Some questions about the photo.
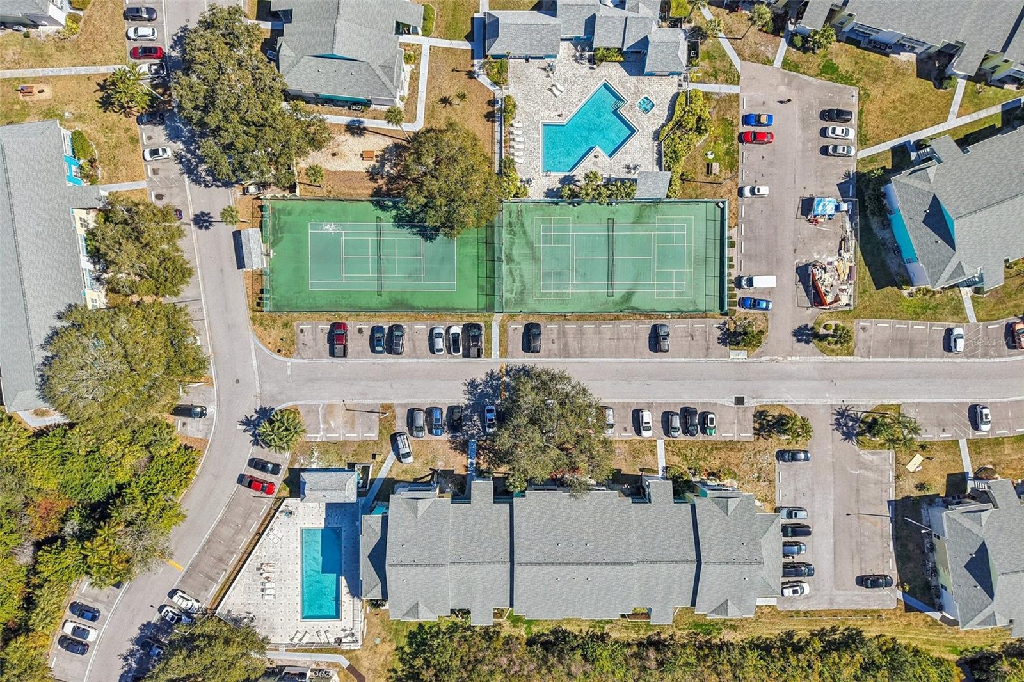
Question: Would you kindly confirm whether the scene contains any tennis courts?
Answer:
Yes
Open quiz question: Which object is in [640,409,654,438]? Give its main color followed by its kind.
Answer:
white car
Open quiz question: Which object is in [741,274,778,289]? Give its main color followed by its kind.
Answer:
white vehicle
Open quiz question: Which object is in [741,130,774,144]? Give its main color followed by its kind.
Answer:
red car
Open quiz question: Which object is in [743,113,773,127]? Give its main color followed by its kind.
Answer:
blue car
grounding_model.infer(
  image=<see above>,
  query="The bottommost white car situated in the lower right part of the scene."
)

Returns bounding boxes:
[781,582,809,597]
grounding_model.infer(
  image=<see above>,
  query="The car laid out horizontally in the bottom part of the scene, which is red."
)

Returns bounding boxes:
[244,476,277,493]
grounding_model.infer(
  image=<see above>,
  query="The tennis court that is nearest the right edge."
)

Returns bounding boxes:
[503,202,723,312]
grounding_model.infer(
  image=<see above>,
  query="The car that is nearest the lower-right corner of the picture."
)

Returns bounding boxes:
[862,574,892,588]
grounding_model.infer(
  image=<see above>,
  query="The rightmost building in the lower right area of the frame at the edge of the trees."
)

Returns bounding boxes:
[926,475,1024,637]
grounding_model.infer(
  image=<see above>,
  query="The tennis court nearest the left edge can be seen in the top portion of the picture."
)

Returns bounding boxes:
[269,200,494,312]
